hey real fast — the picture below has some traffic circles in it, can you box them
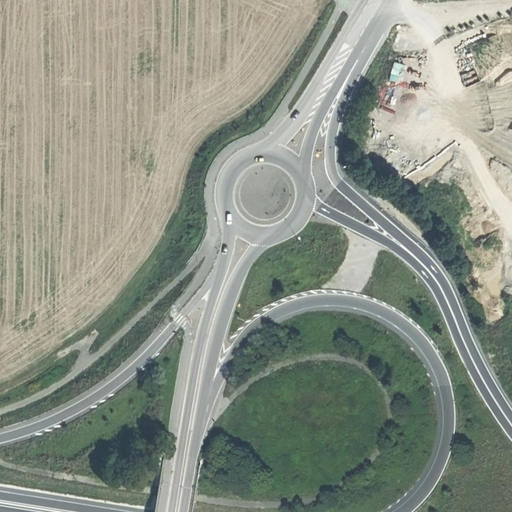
[214,136,316,262]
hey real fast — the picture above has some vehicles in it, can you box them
[290,109,300,120]
[222,245,228,256]
[226,213,232,225]
[255,158,265,163]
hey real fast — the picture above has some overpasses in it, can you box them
[154,452,203,512]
